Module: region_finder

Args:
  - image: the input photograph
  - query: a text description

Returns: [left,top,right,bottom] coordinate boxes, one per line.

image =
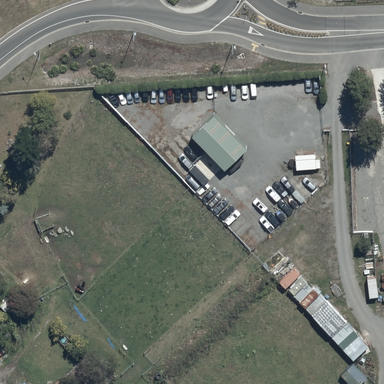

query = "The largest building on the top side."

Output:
[192,111,248,174]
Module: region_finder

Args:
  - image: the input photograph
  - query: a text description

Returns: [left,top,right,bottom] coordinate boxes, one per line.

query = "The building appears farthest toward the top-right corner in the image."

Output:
[294,149,320,170]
